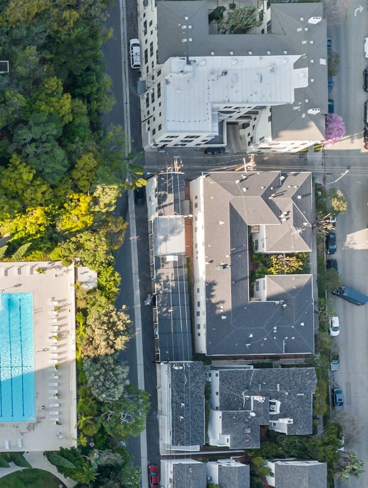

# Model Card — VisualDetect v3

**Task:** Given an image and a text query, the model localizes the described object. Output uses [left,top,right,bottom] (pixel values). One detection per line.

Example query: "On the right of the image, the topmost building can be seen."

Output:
[136,0,328,155]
